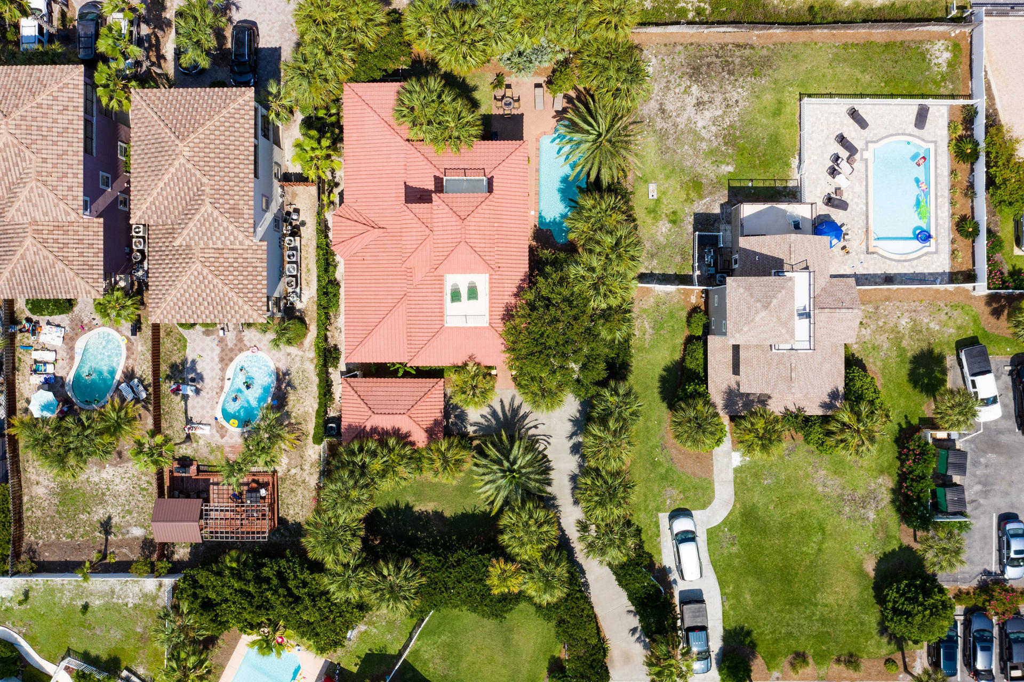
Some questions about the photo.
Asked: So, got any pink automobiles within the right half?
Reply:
No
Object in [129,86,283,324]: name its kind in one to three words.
house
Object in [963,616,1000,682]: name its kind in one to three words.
car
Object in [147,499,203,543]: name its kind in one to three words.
building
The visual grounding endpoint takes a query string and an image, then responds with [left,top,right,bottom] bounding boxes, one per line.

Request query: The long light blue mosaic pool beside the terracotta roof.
[539,121,588,244]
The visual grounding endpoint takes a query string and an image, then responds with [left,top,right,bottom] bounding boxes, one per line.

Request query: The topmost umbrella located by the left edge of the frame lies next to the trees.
[32,389,61,418]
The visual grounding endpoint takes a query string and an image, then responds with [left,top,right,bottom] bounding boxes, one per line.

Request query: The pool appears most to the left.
[66,328,125,409]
